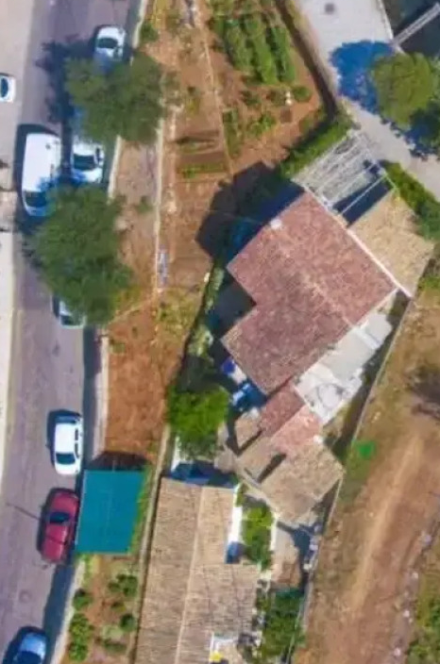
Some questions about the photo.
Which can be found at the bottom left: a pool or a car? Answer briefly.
car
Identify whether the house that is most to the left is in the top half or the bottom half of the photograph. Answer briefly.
bottom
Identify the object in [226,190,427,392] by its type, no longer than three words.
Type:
house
